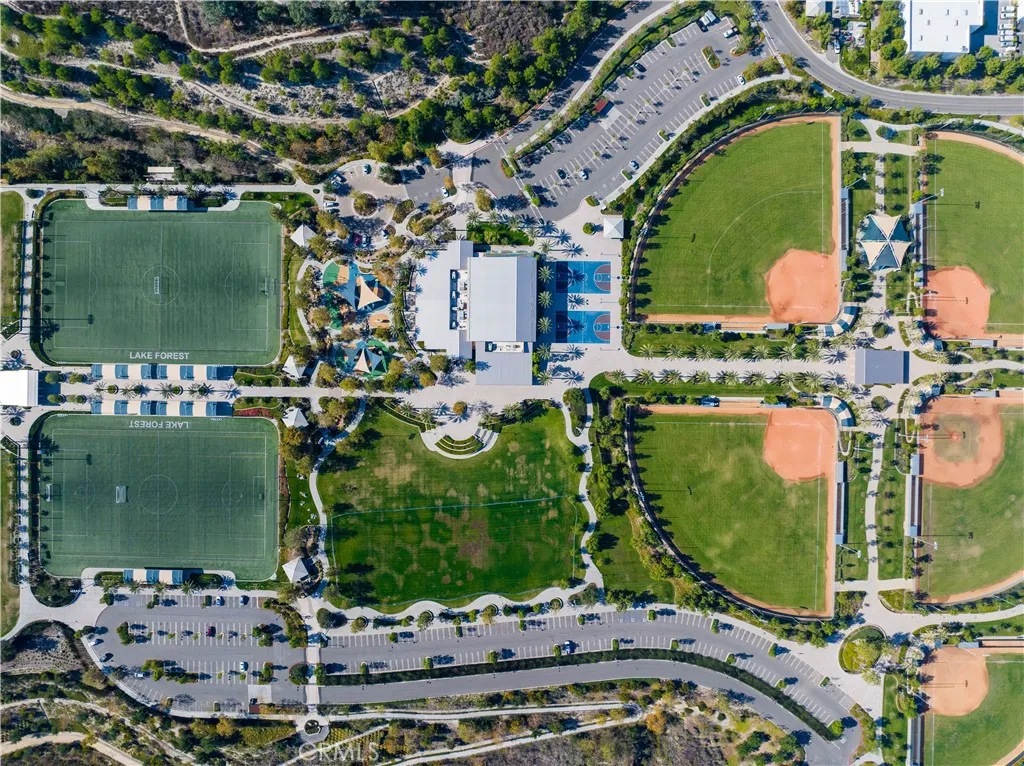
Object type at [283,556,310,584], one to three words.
tent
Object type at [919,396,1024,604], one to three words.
baseball field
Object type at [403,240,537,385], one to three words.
building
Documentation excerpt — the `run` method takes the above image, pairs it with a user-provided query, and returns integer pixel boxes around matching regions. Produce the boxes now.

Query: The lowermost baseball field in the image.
[921,646,1024,766]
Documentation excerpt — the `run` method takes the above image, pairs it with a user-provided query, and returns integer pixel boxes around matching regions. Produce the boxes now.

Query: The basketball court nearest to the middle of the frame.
[557,311,611,343]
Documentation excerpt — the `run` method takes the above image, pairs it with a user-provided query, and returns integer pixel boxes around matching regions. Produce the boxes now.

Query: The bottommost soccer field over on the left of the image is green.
[39,415,280,581]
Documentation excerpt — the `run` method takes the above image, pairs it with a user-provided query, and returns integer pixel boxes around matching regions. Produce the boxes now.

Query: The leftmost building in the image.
[0,370,42,407]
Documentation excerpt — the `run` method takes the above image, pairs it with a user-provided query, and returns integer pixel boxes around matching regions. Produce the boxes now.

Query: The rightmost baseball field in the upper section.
[922,131,1024,346]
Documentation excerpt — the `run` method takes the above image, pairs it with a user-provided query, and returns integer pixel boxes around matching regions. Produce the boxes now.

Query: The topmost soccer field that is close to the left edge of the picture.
[41,199,283,365]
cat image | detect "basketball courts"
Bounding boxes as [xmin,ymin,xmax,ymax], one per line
[557,261,611,293]
[557,311,611,343]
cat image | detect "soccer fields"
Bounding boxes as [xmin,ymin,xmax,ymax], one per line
[41,199,283,365]
[39,415,280,581]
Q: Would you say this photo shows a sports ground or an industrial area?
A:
sports ground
